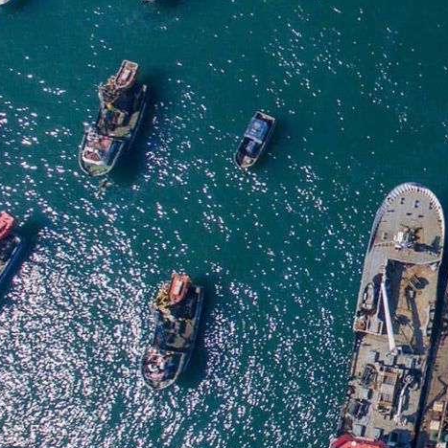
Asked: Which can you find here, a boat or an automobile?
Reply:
boat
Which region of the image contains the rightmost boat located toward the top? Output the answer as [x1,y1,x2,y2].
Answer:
[237,111,276,170]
